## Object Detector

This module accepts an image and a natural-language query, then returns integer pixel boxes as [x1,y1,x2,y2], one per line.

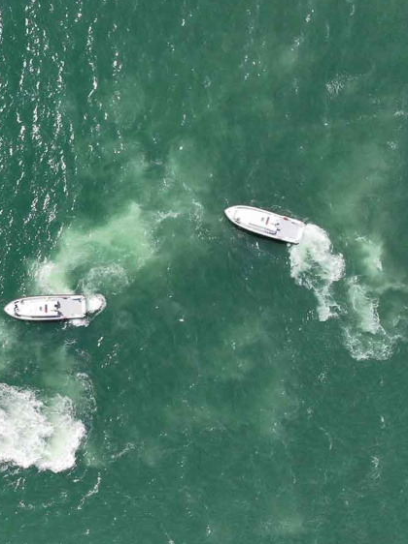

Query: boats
[6,294,89,321]
[227,203,309,244]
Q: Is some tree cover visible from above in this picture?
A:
No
